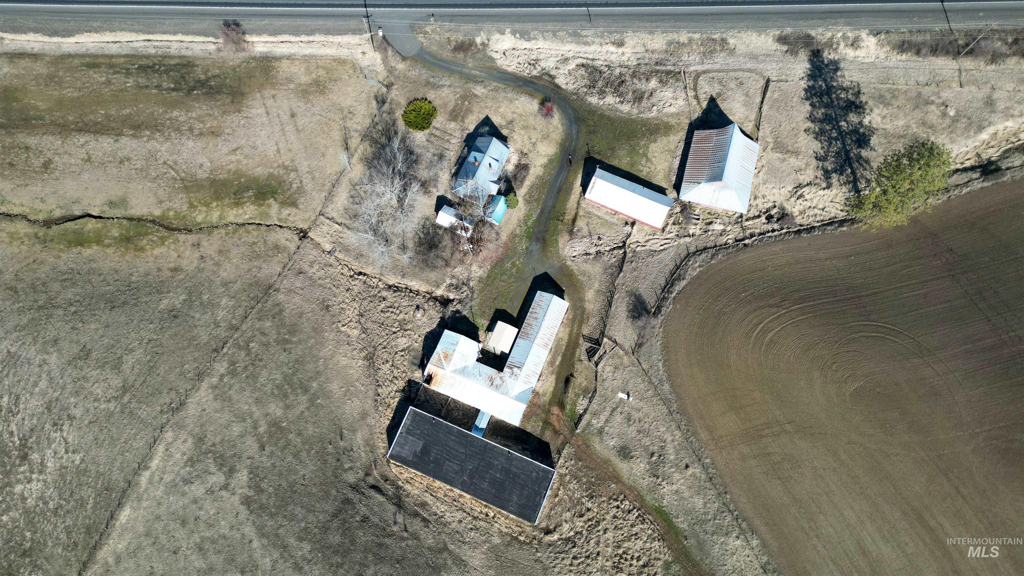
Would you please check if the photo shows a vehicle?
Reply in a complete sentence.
No, the scene contains no vehicle.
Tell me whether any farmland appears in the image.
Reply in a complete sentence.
Yes, there's farmland in this view.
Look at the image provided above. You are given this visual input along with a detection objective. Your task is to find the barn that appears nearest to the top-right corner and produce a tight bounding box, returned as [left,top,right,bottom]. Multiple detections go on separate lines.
[679,122,759,214]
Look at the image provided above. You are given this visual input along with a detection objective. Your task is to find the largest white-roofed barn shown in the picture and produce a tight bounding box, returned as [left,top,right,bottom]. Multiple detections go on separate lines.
[422,291,569,426]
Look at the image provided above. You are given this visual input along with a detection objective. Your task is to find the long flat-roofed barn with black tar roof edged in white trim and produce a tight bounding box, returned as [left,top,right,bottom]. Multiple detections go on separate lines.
[387,406,556,525]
